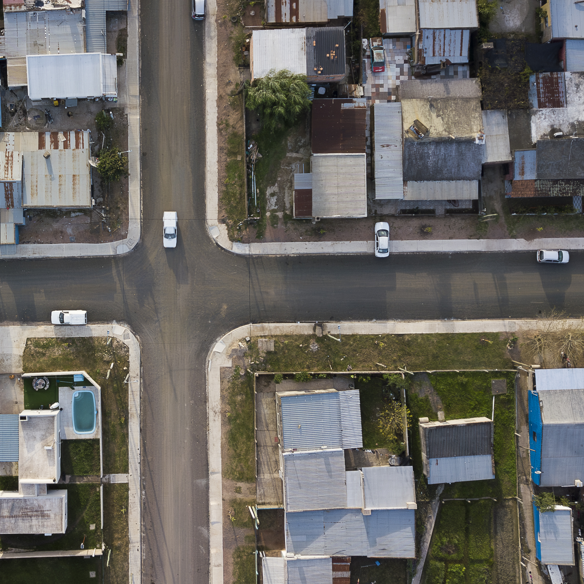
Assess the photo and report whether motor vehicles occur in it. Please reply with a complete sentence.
Yes, there is a motor vehicle in the image.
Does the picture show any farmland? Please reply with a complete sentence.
No, no farmland is visible.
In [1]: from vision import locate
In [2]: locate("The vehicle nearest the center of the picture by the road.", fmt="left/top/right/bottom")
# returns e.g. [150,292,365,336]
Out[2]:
[374,221,392,258]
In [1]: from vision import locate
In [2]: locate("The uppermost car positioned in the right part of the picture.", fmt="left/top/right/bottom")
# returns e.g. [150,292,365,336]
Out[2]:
[370,37,386,74]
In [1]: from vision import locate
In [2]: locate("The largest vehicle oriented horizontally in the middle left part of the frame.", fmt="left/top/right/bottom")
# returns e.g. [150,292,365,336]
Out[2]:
[51,309,88,325]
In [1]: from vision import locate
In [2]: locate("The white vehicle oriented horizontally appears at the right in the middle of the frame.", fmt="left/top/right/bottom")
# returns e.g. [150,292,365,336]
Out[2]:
[534,249,569,265]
